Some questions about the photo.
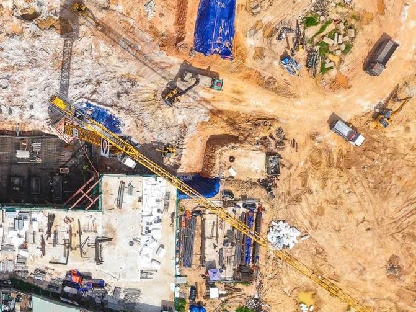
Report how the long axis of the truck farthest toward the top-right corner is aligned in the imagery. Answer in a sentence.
From this overhead view, the truck farthest toward the top-right corner appears to run diagonally.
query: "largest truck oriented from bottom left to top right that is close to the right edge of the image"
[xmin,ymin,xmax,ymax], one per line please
[367,33,407,77]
